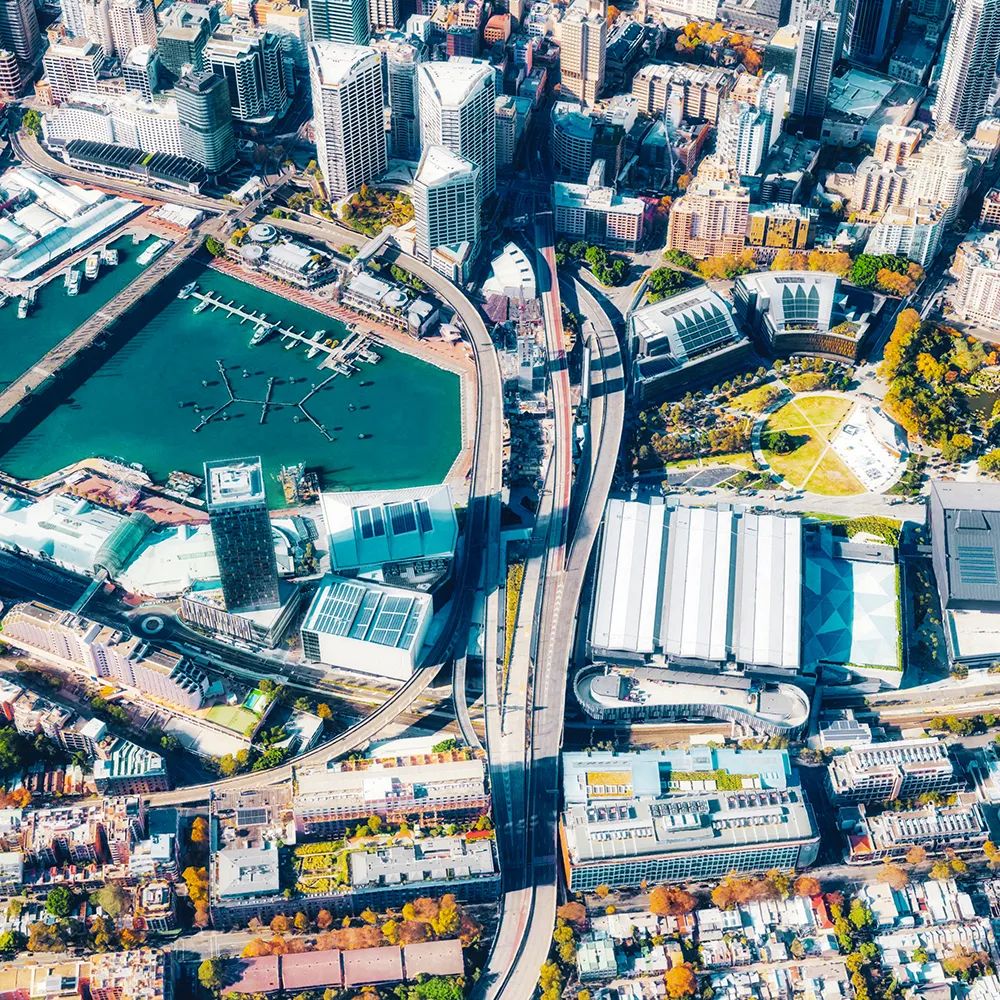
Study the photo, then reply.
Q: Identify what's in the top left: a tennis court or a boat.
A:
boat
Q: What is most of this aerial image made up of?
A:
buildings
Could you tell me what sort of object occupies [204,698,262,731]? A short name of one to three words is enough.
tennis court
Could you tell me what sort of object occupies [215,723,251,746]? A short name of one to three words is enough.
shed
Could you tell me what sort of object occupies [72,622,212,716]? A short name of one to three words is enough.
building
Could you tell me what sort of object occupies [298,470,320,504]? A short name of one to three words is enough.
ship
